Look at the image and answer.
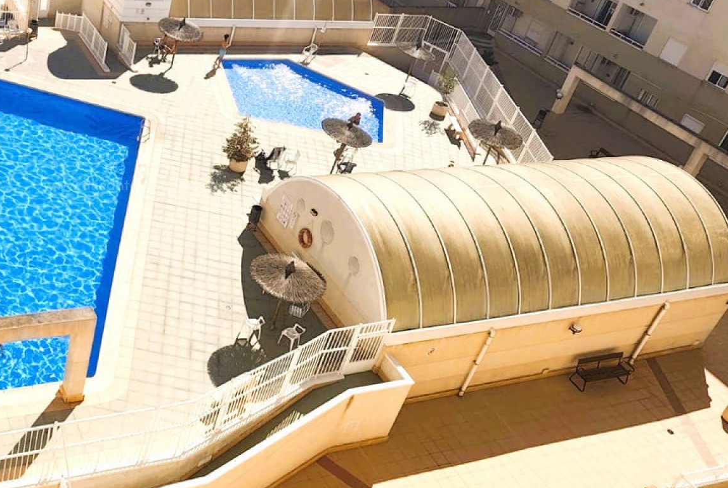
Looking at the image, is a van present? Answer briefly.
No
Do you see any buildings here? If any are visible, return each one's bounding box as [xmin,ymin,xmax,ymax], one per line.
[253,150,728,403]
[384,0,728,193]
[87,0,378,51]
